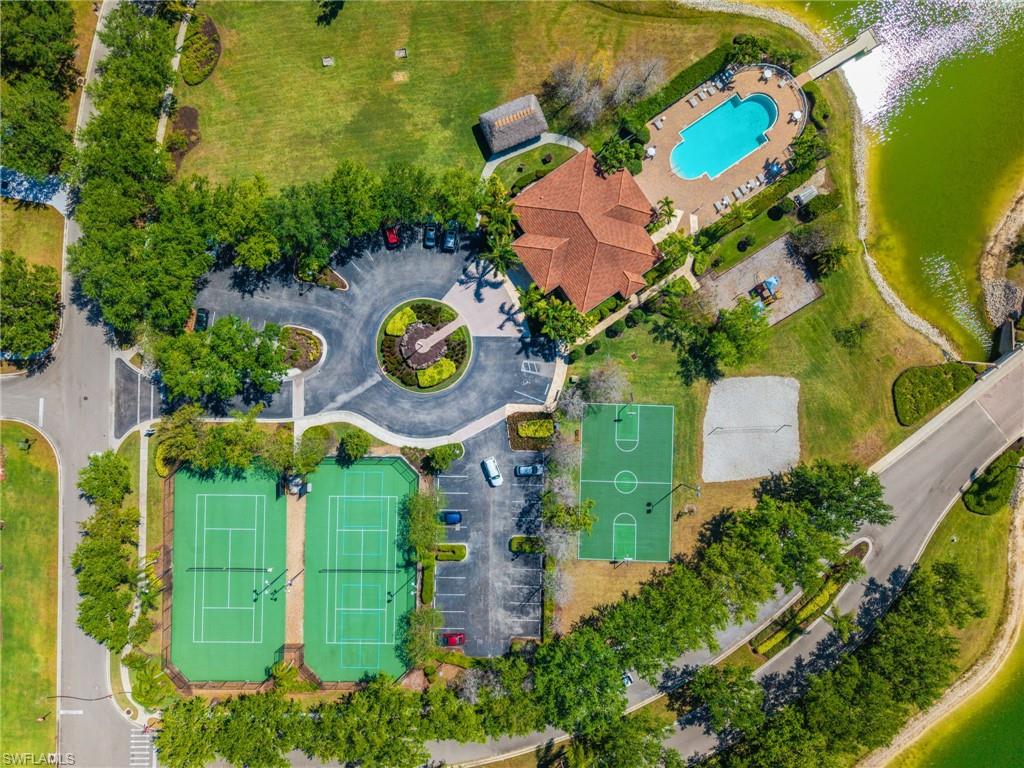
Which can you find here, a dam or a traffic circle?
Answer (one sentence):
The one in the frame is a traffic circle.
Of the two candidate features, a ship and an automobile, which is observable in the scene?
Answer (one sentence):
The image shows an automobile.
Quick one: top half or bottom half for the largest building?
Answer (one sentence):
It is in the top half that the largest building appears.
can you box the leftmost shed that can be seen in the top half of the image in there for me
[478,95,549,154]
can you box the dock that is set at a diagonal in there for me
[794,27,881,88]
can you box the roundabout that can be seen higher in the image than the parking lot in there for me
[377,298,472,393]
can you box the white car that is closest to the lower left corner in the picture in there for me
[483,456,502,486]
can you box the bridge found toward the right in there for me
[959,323,1024,391]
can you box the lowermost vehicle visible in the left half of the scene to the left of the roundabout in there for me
[194,306,210,334]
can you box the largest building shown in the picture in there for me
[512,149,662,311]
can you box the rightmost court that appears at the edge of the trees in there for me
[702,376,800,483]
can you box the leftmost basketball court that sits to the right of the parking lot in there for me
[578,404,675,562]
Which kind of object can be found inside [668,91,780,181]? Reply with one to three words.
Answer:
swimming pool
